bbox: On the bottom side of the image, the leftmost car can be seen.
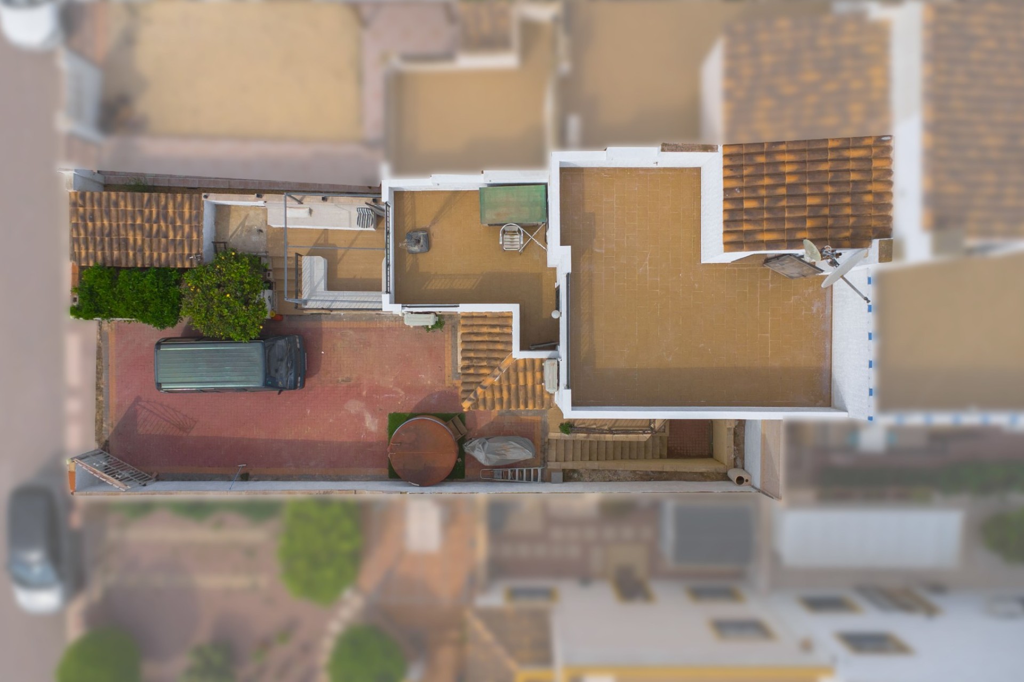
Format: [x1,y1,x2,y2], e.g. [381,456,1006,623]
[2,482,74,610]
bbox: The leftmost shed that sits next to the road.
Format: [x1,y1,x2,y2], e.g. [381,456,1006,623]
[70,190,215,269]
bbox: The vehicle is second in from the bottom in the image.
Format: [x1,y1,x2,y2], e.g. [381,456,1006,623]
[154,332,308,398]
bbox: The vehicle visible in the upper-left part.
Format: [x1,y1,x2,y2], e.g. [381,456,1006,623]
[1,0,65,55]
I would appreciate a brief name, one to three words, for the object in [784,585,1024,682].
house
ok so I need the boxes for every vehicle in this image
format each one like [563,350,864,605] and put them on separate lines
[1,0,65,55]
[154,332,308,398]
[2,482,74,610]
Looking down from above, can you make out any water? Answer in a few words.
No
